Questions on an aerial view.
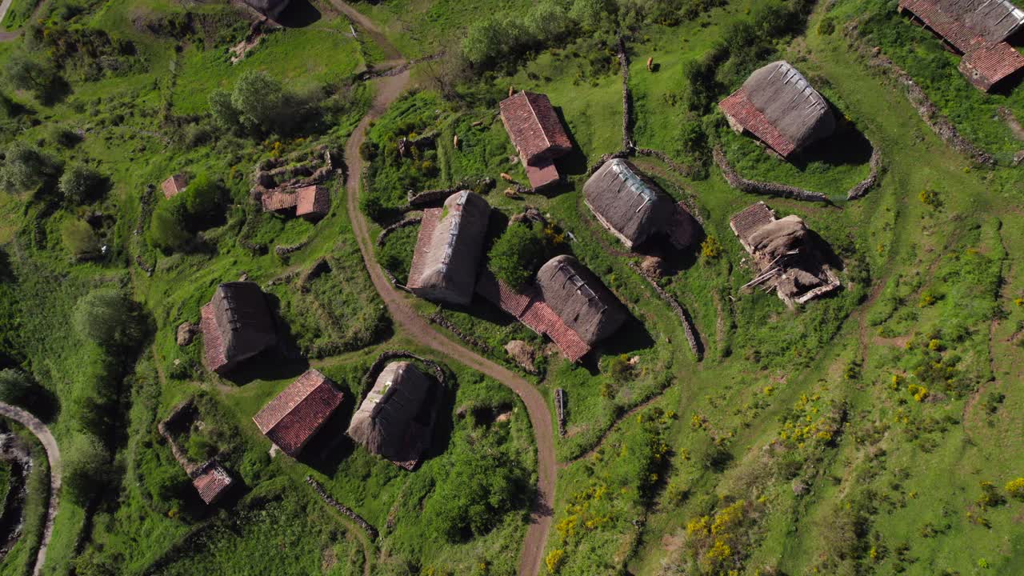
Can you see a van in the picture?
No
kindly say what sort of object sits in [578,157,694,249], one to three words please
barn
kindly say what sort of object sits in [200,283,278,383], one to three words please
barn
